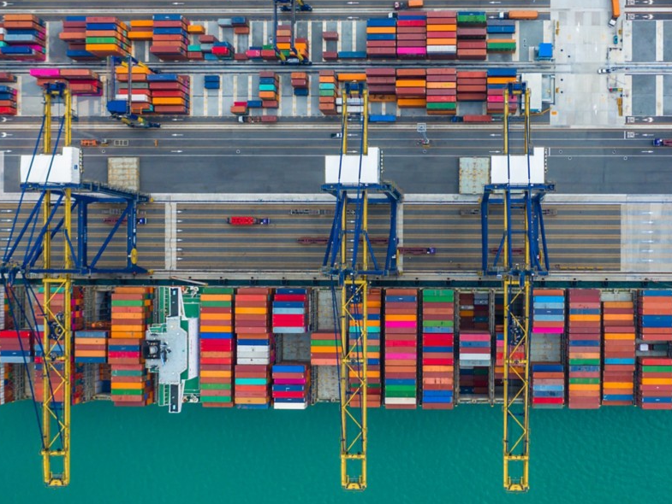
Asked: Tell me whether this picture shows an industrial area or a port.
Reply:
port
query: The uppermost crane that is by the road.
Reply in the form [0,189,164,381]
[271,0,312,64]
